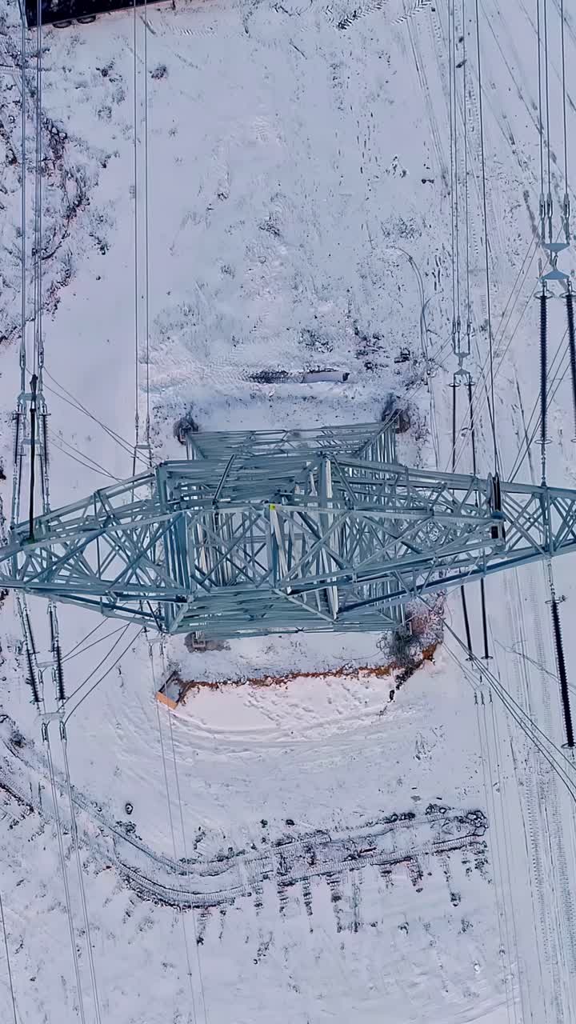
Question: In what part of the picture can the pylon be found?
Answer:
center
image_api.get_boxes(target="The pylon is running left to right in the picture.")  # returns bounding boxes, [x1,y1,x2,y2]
[0,416,576,639]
